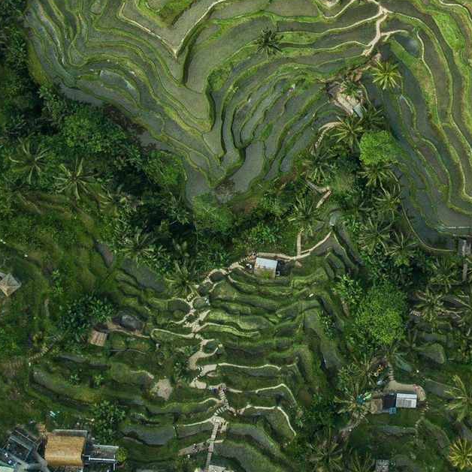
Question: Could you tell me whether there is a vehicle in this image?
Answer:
No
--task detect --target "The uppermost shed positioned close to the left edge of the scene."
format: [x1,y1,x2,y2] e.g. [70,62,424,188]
[0,270,27,298]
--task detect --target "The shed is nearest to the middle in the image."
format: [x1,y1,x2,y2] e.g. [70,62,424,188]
[254,255,278,275]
